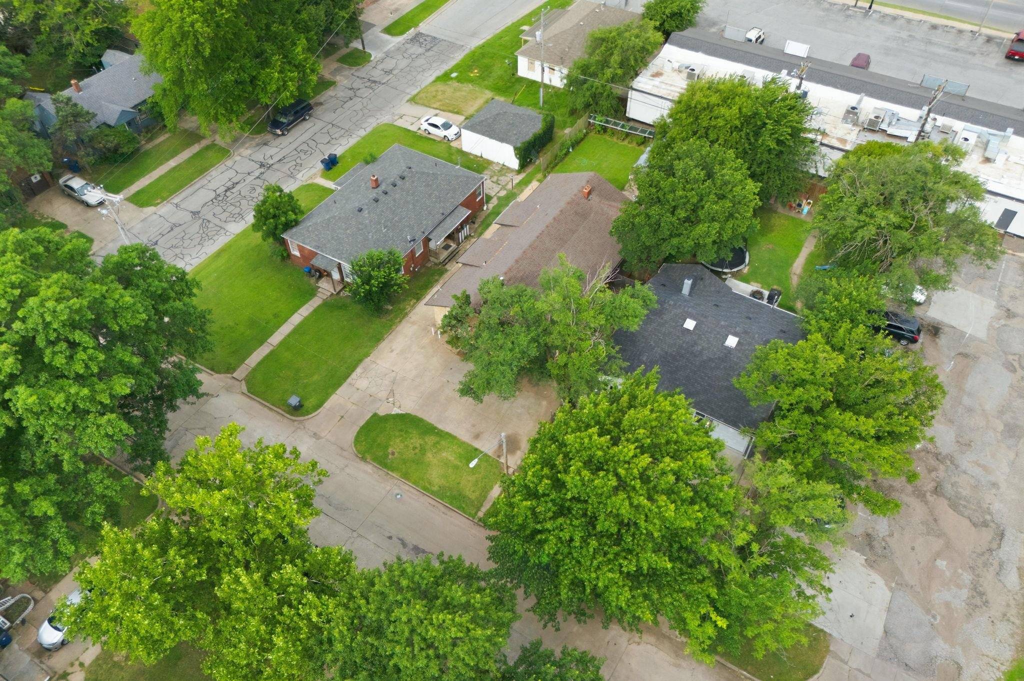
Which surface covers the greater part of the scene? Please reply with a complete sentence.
For the most part, this view shows trees.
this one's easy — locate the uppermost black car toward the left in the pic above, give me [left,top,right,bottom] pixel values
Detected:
[263,97,313,139]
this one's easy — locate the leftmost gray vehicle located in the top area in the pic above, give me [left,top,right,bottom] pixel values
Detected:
[59,177,105,207]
